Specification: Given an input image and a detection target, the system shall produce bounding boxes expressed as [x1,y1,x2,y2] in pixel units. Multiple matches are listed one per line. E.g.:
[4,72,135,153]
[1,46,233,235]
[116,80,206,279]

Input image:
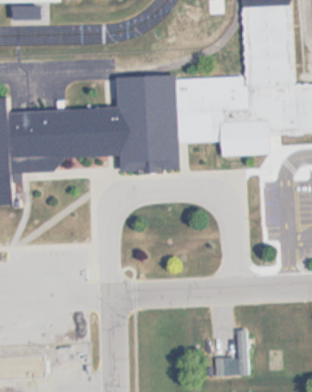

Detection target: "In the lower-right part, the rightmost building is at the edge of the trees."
[216,328,252,377]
